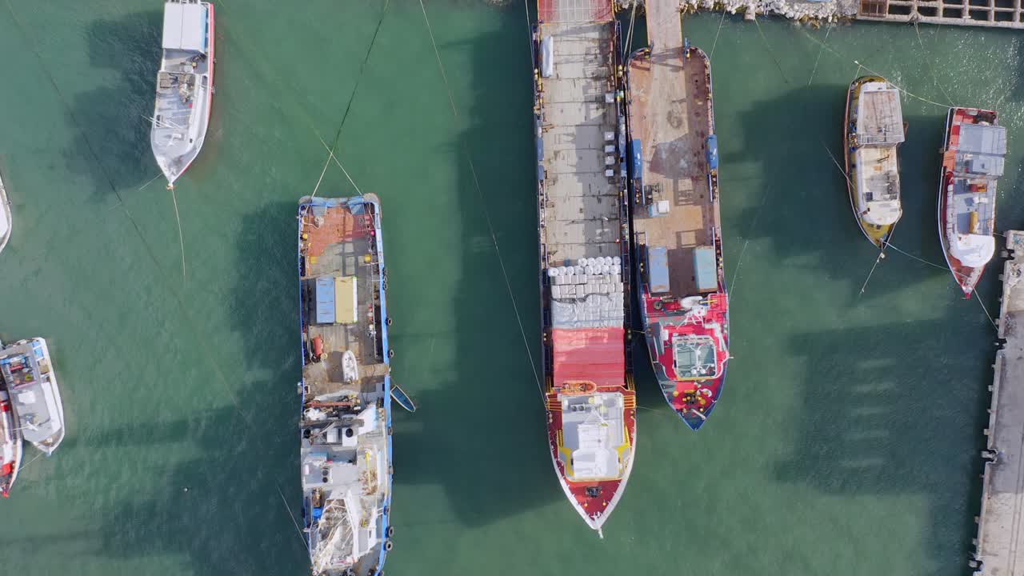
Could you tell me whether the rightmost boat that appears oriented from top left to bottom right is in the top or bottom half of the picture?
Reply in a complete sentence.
Seen from above, the rightmost boat that appears oriented from top left to bottom right lies in the bottom half of the view.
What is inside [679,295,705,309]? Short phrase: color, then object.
white boat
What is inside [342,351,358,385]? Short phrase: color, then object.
white boat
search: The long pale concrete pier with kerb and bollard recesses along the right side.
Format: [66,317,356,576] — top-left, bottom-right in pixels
[963,230,1024,576]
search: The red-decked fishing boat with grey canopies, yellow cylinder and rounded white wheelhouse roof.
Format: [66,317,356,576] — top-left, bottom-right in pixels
[934,108,1007,298]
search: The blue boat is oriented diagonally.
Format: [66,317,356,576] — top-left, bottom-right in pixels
[391,385,416,413]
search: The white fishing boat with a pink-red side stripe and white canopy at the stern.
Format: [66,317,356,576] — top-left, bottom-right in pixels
[141,0,219,190]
